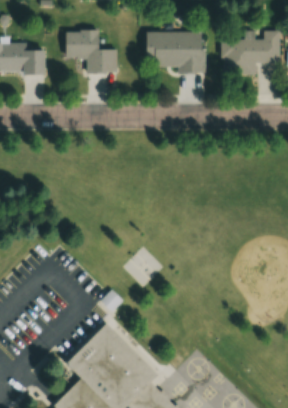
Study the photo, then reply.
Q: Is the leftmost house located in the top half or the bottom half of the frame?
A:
top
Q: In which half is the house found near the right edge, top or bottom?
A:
top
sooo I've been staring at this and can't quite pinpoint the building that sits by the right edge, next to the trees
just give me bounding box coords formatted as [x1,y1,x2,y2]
[222,31,282,76]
